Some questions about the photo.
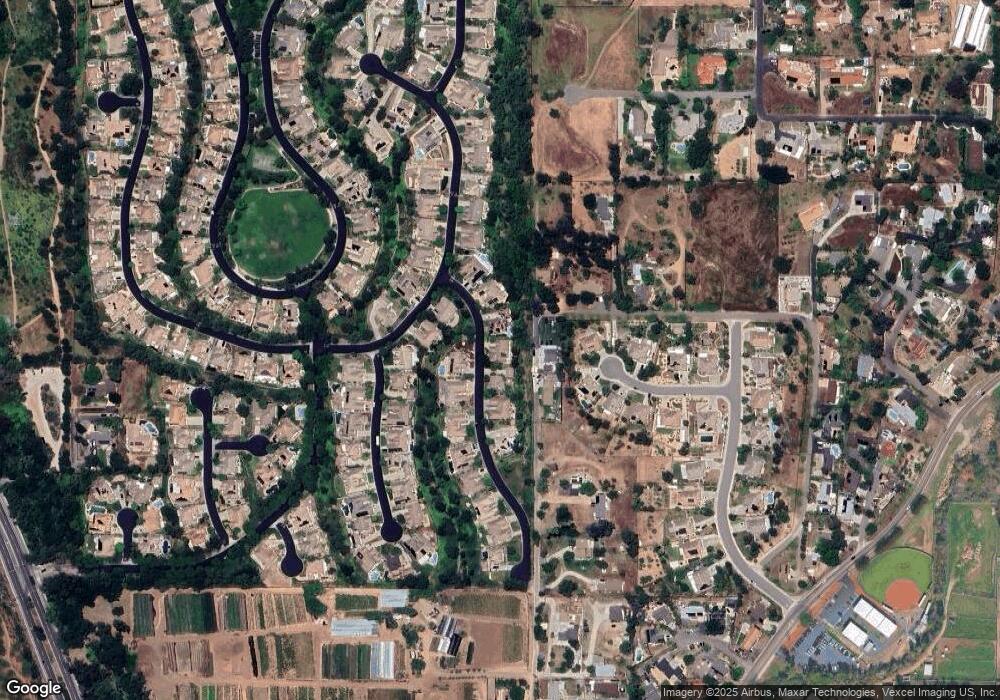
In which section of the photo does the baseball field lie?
bottom right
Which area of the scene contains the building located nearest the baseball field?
bottom right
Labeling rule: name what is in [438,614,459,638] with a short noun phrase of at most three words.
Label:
greenhouse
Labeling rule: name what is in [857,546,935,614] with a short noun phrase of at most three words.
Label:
baseball field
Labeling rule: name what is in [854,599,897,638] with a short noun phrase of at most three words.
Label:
building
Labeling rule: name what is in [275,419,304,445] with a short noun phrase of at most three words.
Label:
house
